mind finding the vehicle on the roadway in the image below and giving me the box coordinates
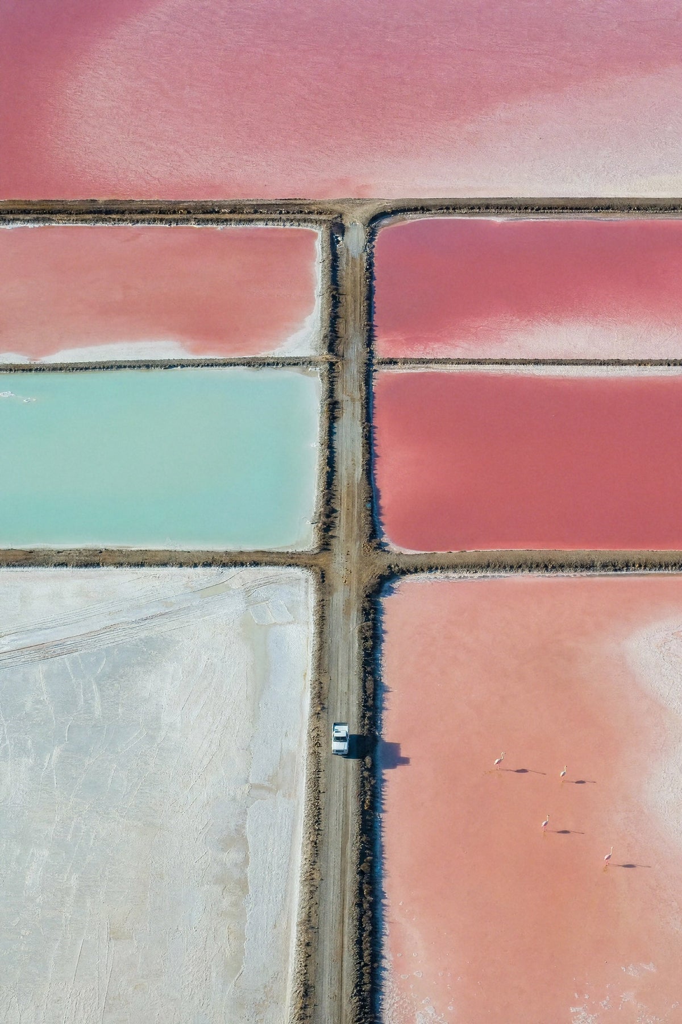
[330,724,350,758]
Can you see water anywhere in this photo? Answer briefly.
Yes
